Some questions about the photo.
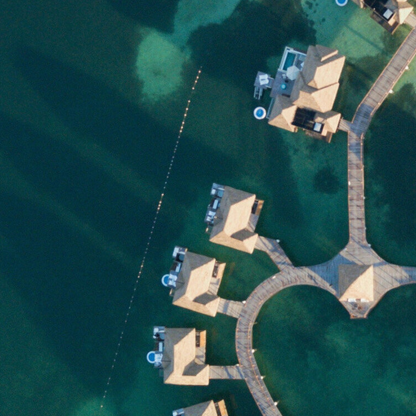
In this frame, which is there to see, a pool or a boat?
pool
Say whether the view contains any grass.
No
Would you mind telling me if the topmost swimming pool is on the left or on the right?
right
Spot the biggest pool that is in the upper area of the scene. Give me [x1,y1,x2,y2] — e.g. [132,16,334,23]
[278,44,307,73]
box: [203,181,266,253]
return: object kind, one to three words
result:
house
